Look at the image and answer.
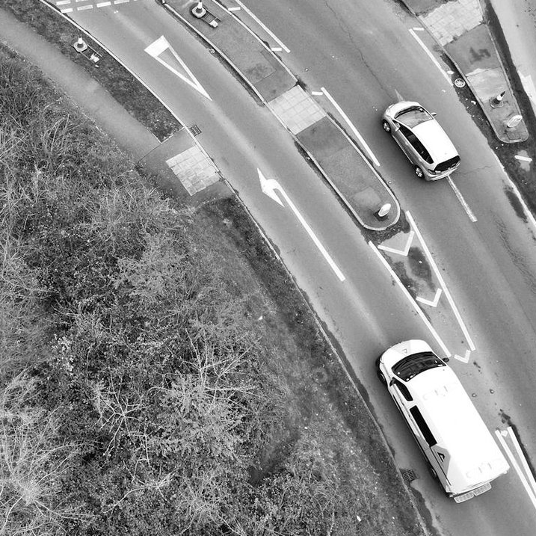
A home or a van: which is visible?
van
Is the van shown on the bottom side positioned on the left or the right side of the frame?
right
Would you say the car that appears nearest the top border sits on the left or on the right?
right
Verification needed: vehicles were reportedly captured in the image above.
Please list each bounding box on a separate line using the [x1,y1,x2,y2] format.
[383,99,468,188]
[377,346,509,511]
